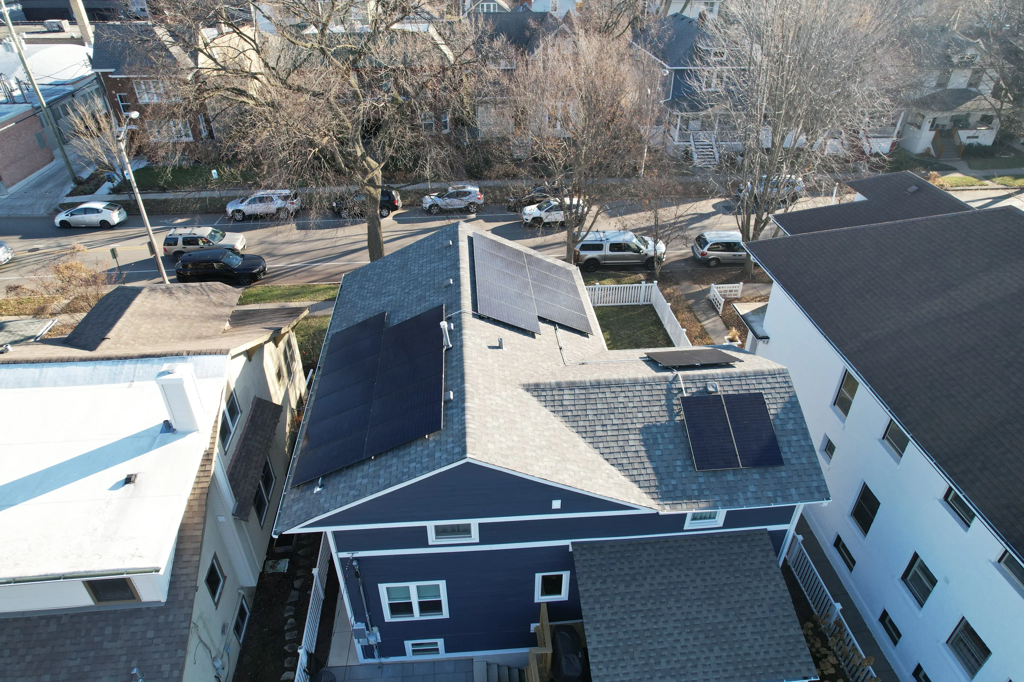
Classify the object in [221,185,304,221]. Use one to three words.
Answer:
car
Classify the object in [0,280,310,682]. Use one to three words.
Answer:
house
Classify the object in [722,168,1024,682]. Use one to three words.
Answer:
house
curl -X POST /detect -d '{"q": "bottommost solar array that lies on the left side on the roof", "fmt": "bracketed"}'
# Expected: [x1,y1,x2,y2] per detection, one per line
[291,303,445,489]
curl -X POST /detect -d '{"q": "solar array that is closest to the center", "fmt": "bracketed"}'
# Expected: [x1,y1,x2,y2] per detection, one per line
[472,234,593,336]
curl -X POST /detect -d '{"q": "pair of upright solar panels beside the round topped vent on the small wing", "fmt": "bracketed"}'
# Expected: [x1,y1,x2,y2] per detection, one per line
[678,393,785,472]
